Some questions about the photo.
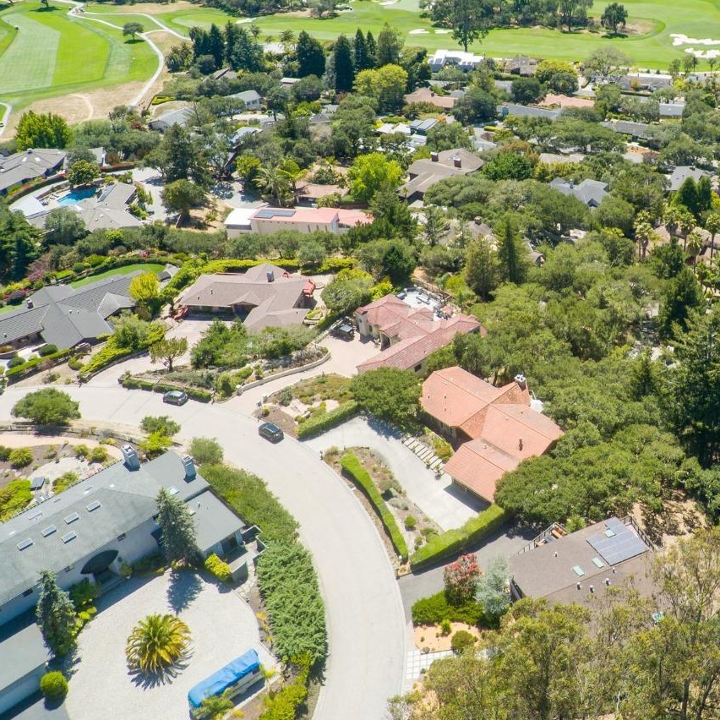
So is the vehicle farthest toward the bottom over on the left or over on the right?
left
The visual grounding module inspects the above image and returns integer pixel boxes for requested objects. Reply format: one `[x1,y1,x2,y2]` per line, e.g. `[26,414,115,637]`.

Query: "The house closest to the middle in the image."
[358,283,481,378]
